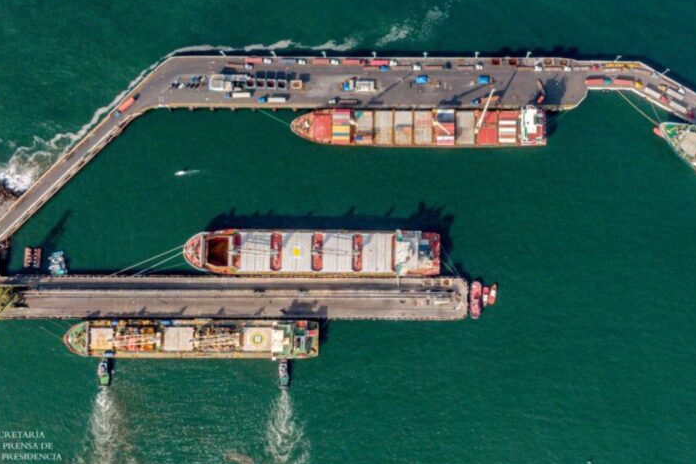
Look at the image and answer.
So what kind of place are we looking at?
port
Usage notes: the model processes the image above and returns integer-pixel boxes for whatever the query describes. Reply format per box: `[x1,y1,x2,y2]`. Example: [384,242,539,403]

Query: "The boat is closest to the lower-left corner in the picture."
[98,358,111,388]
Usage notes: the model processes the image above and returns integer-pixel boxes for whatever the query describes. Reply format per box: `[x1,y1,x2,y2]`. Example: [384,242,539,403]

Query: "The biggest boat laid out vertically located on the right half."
[470,281,482,319]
